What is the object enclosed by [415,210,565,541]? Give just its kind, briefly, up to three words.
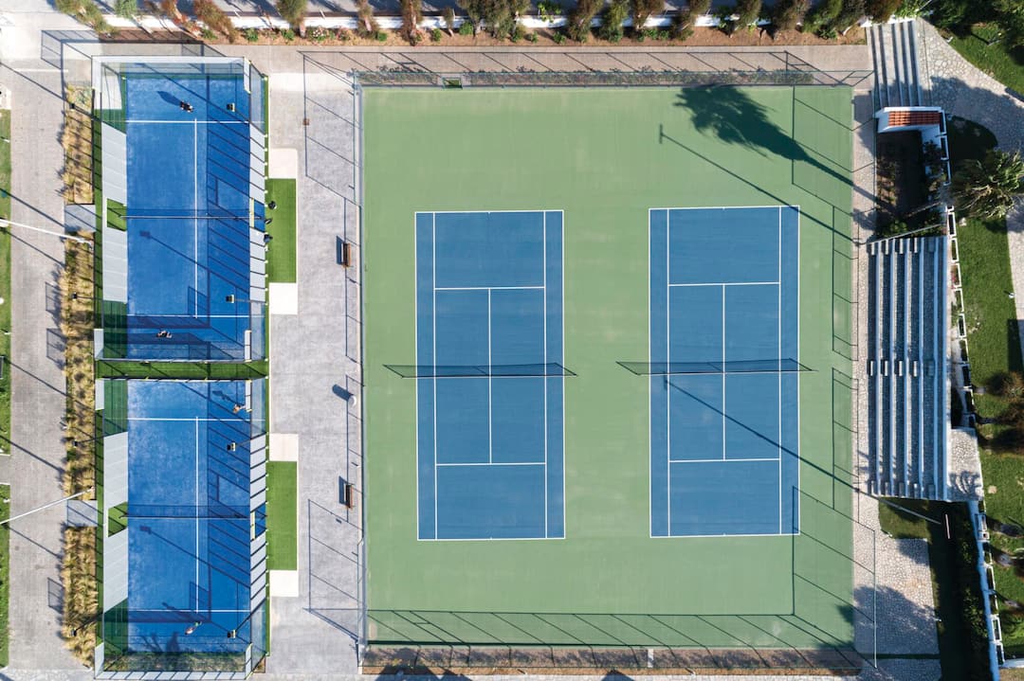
tennis court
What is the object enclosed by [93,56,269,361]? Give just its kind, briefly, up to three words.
sports court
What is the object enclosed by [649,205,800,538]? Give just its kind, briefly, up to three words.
tennis court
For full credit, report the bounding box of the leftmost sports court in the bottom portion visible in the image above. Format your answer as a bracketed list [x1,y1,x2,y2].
[95,377,272,680]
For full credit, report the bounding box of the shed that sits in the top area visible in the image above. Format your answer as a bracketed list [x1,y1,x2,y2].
[870,108,932,137]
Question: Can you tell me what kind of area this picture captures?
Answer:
sports ground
